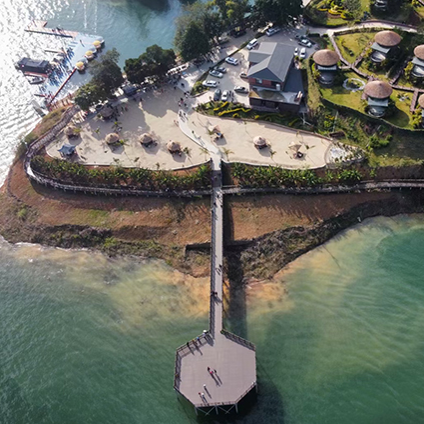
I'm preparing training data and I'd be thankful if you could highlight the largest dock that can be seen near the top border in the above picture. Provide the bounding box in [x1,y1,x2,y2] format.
[24,21,103,104]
